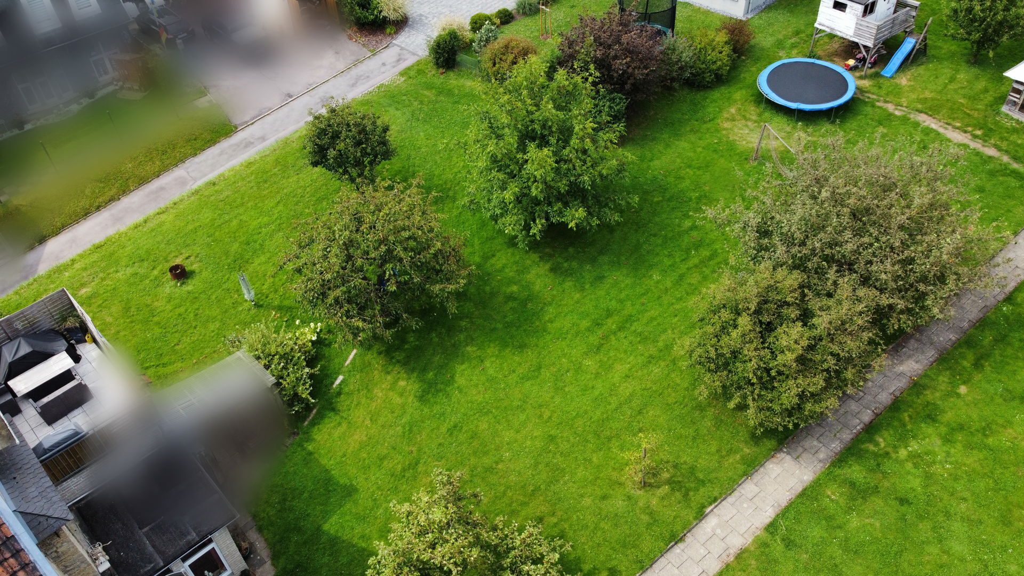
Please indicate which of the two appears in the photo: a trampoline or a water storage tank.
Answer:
trampoline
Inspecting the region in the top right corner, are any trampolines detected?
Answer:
Yes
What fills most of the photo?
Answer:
grass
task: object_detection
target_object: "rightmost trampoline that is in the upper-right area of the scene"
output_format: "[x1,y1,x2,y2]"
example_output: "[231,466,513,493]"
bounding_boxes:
[754,58,857,128]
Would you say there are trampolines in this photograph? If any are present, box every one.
[754,58,857,128]
[611,0,680,54]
